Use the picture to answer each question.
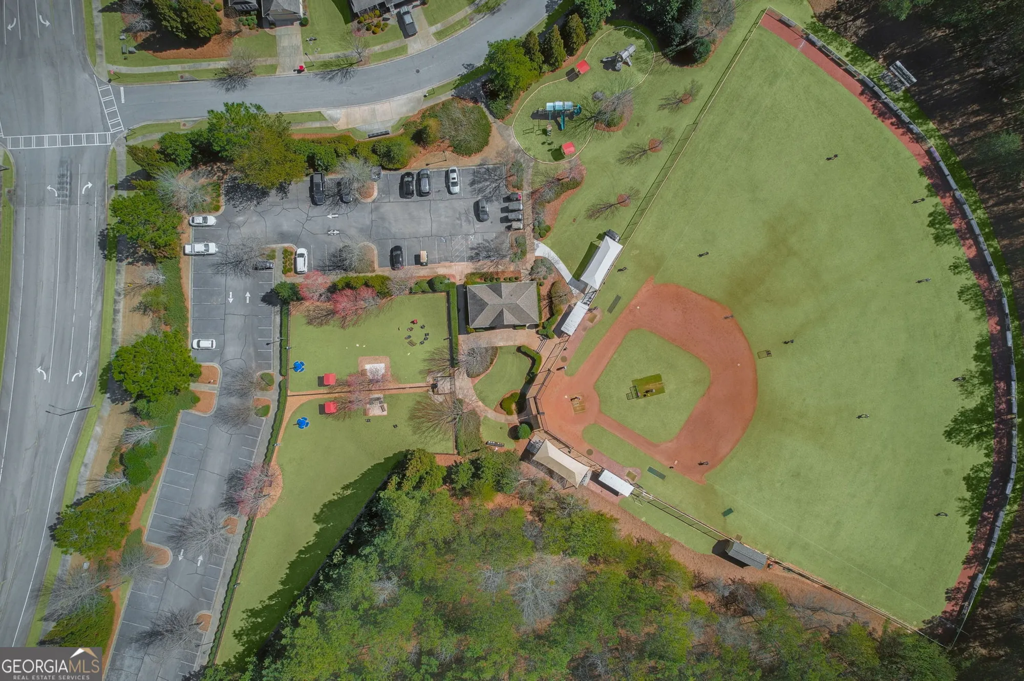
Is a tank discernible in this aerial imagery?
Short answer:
No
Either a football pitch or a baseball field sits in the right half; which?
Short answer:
baseball field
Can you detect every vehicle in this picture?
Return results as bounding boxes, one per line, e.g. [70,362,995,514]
[295,248,308,273]
[447,167,459,194]
[419,249,427,265]
[183,242,219,255]
[508,212,522,221]
[190,214,217,227]
[401,172,414,199]
[252,259,277,271]
[477,197,489,222]
[605,230,619,242]
[418,168,431,197]
[400,4,419,37]
[192,338,217,350]
[509,202,522,211]
[339,177,352,204]
[508,193,523,202]
[311,172,325,206]
[391,245,403,270]
[511,221,523,229]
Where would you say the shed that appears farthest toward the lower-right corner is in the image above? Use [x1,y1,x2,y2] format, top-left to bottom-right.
[727,541,767,570]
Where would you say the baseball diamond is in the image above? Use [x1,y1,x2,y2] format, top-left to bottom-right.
[536,11,1010,644]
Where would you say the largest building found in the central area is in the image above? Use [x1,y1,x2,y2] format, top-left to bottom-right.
[467,280,540,328]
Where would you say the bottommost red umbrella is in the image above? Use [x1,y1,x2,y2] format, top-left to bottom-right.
[325,402,338,414]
